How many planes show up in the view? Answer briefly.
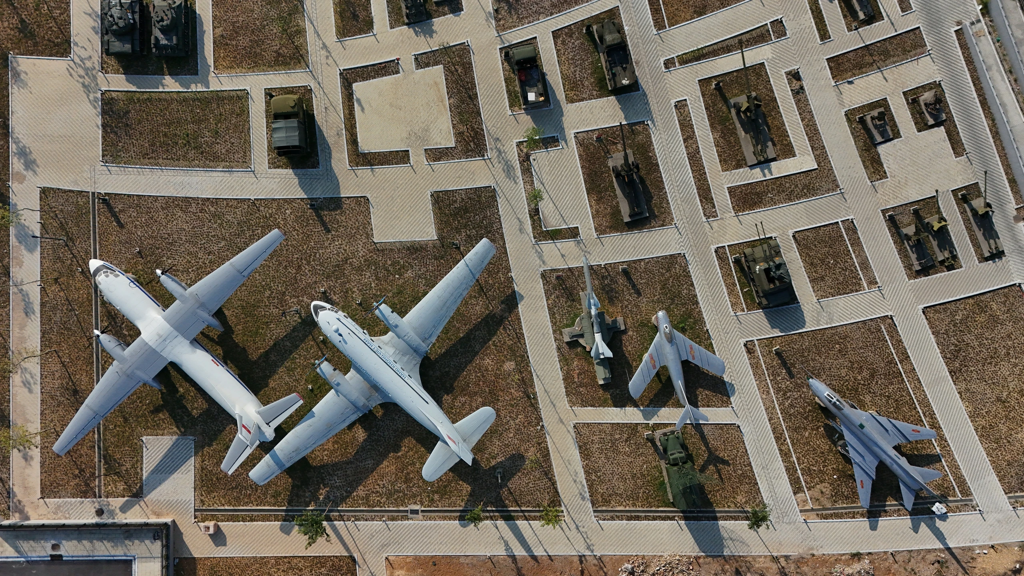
4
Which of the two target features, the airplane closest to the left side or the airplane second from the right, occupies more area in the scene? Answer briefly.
the airplane closest to the left side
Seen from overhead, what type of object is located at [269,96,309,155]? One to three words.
work vehicle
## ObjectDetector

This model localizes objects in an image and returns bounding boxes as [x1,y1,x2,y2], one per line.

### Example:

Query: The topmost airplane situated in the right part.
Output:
[621,310,729,430]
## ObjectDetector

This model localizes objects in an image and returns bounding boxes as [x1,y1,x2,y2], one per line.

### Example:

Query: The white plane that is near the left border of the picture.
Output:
[50,228,303,483]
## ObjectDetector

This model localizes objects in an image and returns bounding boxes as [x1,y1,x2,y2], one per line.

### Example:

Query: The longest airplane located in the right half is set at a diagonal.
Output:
[802,366,952,518]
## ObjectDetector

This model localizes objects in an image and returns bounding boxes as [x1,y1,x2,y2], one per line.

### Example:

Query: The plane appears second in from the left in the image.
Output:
[251,241,500,489]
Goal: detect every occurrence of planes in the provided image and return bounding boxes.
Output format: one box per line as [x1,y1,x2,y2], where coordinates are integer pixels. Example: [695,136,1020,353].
[802,366,952,518]
[50,228,303,483]
[251,241,500,489]
[621,310,729,430]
